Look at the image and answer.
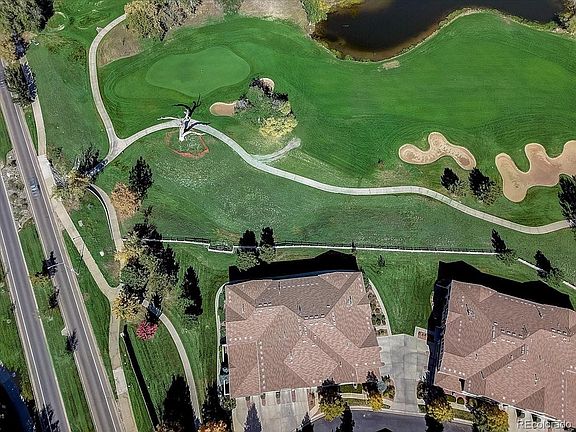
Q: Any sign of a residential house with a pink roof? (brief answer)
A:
No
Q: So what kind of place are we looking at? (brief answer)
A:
golf course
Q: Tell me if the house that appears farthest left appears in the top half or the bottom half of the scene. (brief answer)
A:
bottom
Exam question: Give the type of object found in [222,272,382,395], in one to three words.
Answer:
house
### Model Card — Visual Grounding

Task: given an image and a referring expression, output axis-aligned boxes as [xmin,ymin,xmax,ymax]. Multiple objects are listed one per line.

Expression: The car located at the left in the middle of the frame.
[28,178,42,196]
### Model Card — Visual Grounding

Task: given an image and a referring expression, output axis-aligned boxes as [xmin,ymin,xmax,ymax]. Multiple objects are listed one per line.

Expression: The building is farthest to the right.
[431,280,576,421]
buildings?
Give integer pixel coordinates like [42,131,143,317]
[222,272,382,395]
[431,280,576,421]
